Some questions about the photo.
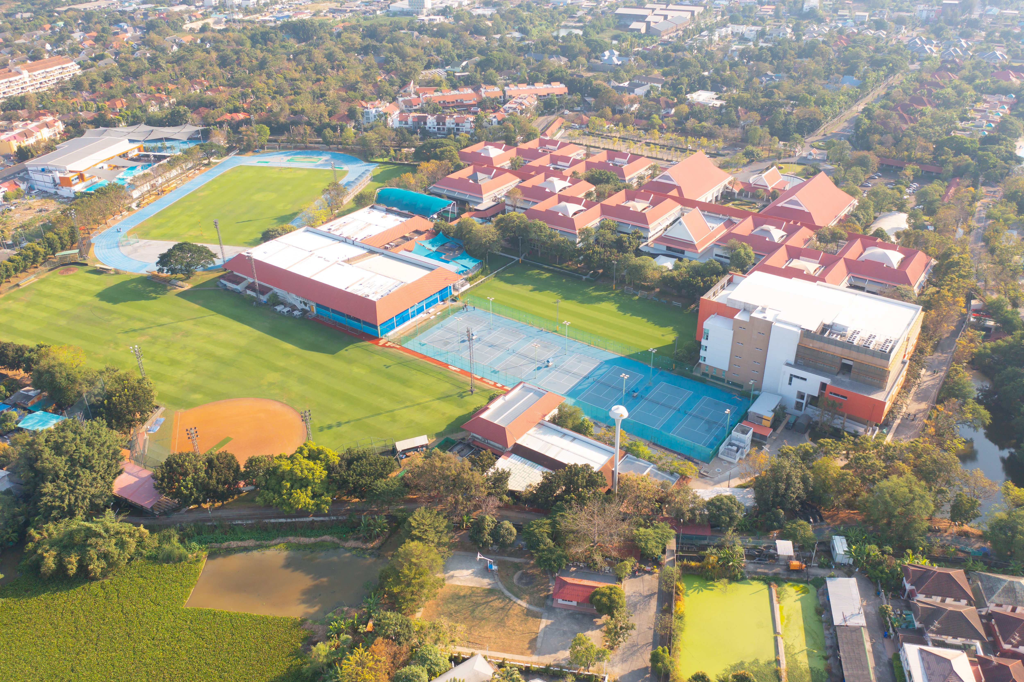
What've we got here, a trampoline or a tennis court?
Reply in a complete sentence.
Looking from above, you can make out a tennis court.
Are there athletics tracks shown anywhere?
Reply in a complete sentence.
Yes, you can see an athletics track in this photo.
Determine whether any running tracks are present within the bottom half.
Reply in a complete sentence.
No, there is no running track within the bottom half.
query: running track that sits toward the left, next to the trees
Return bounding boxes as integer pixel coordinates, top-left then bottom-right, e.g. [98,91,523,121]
[89,151,367,274]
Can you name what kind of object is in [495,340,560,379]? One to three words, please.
tennis court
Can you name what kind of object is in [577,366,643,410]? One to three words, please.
tennis court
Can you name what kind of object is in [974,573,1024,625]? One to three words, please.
house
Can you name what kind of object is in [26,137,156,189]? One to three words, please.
building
